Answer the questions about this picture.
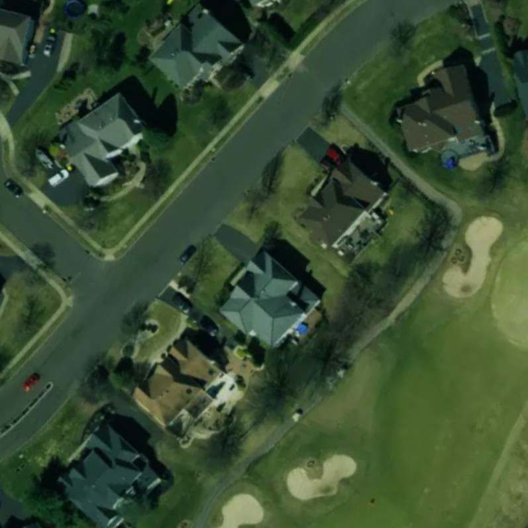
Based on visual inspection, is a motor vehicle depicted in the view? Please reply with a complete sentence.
Yes, the picture does show a motor vehicle.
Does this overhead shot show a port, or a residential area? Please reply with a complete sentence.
What you see here is a residential area.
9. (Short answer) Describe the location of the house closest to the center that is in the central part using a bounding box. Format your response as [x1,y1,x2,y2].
[223,252,322,351]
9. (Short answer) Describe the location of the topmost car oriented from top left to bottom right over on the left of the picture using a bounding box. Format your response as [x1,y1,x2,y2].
[36,149,53,167]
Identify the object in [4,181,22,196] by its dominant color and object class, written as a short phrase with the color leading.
black car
